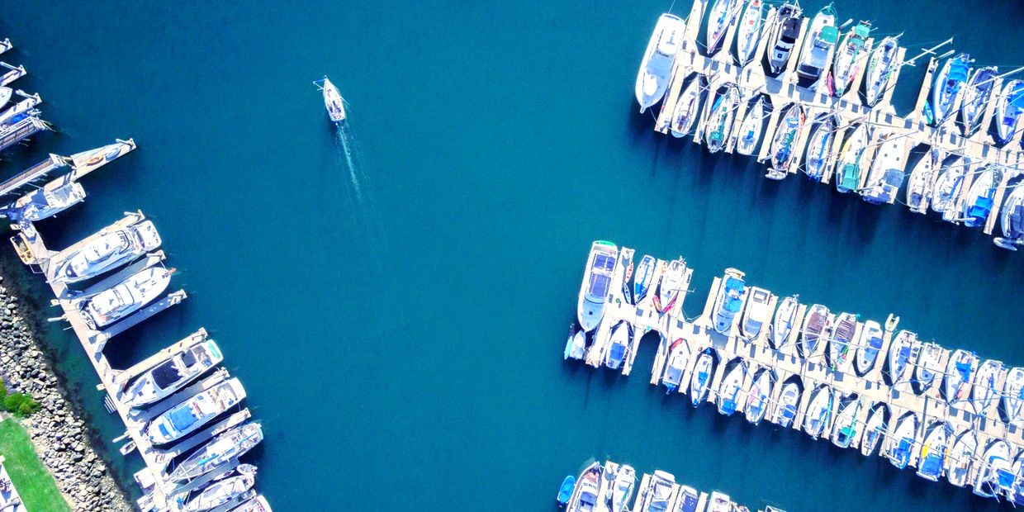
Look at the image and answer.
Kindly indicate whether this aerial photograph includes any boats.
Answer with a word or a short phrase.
Yes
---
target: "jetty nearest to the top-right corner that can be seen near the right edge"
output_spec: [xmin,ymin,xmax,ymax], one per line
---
[654,0,1024,243]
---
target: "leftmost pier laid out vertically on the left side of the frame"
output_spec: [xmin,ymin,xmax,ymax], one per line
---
[0,38,43,136]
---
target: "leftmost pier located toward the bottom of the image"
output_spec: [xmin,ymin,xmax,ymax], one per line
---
[10,139,258,512]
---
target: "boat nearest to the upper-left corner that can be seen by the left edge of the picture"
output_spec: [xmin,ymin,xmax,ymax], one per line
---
[0,86,22,112]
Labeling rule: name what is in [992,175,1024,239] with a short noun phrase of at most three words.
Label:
boat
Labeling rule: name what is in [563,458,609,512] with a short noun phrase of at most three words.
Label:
boat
